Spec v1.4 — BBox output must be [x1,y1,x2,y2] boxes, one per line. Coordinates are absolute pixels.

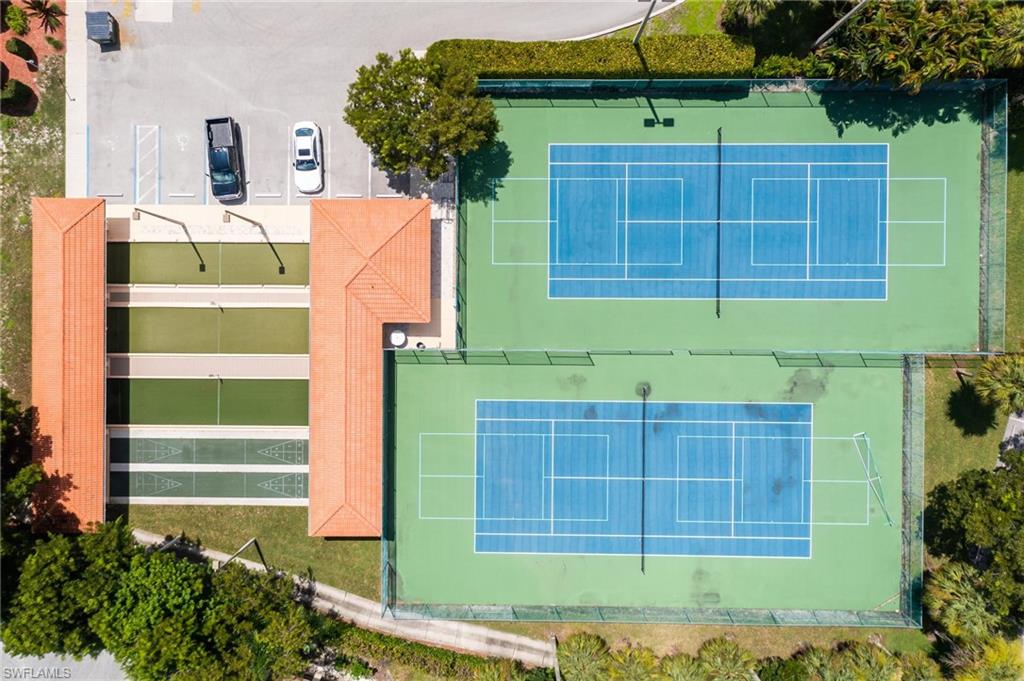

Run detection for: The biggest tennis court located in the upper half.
[459,95,981,350]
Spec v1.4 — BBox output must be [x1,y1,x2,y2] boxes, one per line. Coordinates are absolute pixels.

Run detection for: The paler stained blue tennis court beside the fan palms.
[388,350,904,610]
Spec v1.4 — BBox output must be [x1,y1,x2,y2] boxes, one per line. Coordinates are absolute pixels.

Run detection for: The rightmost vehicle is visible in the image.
[292,121,325,194]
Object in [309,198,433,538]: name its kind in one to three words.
building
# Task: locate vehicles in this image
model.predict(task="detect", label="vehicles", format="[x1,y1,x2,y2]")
[204,115,245,200]
[292,121,325,194]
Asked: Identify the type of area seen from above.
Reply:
sports ground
